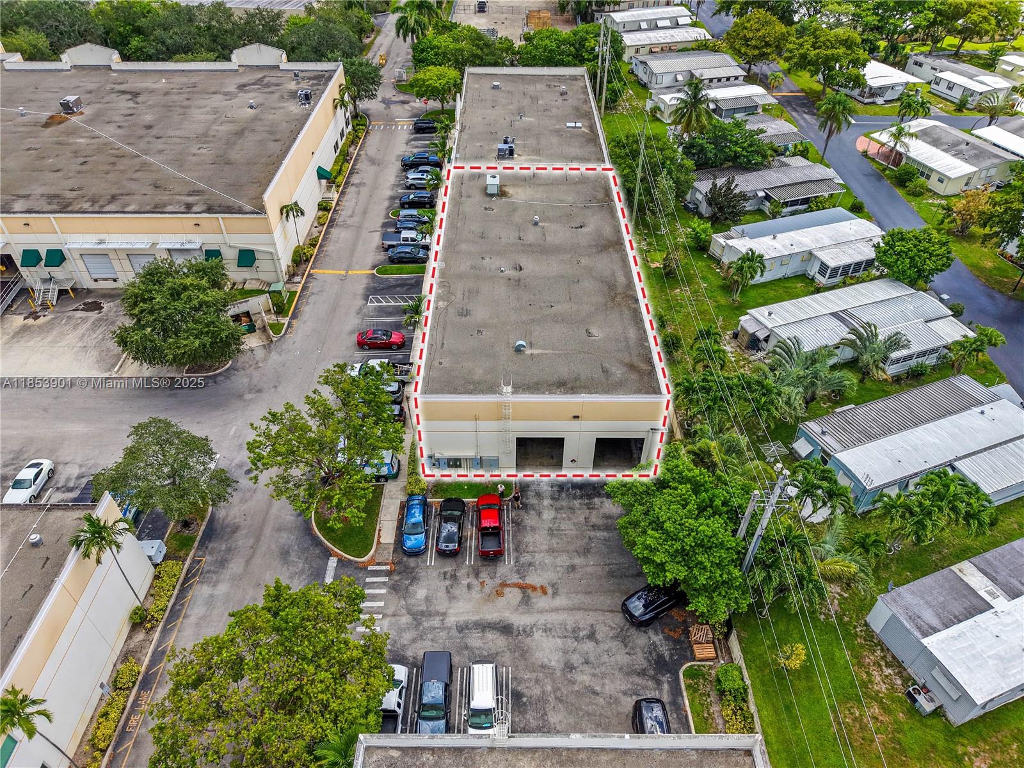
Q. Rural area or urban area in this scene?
urban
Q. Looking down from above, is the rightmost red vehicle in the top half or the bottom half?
bottom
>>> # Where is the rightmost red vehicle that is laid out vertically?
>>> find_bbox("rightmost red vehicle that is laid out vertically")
[474,491,506,562]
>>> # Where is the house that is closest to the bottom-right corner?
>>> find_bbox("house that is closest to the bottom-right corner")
[867,535,1024,728]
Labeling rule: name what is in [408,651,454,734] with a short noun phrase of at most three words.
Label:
vehicle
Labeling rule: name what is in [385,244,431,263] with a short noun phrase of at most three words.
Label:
car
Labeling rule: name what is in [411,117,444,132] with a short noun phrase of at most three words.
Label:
car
